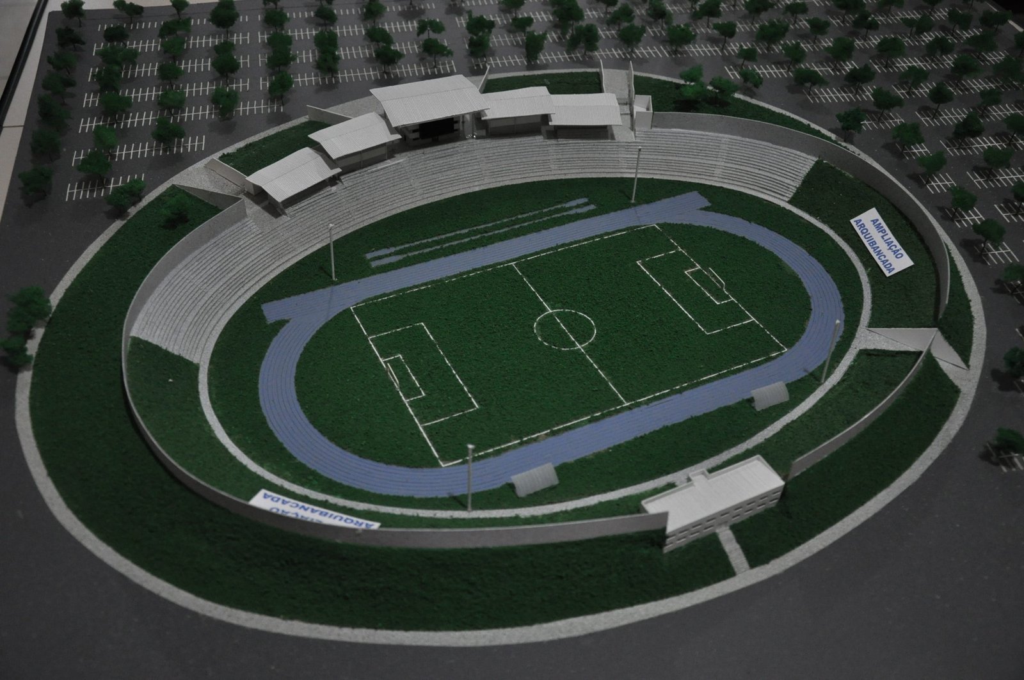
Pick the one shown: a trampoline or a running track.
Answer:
running track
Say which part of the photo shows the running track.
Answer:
center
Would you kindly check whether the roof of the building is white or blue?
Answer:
white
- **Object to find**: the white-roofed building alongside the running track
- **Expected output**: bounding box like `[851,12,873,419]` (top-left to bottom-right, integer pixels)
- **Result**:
[640,454,787,551]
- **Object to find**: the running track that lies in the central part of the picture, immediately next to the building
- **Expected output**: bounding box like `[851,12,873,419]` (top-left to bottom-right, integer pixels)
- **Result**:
[257,190,845,499]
